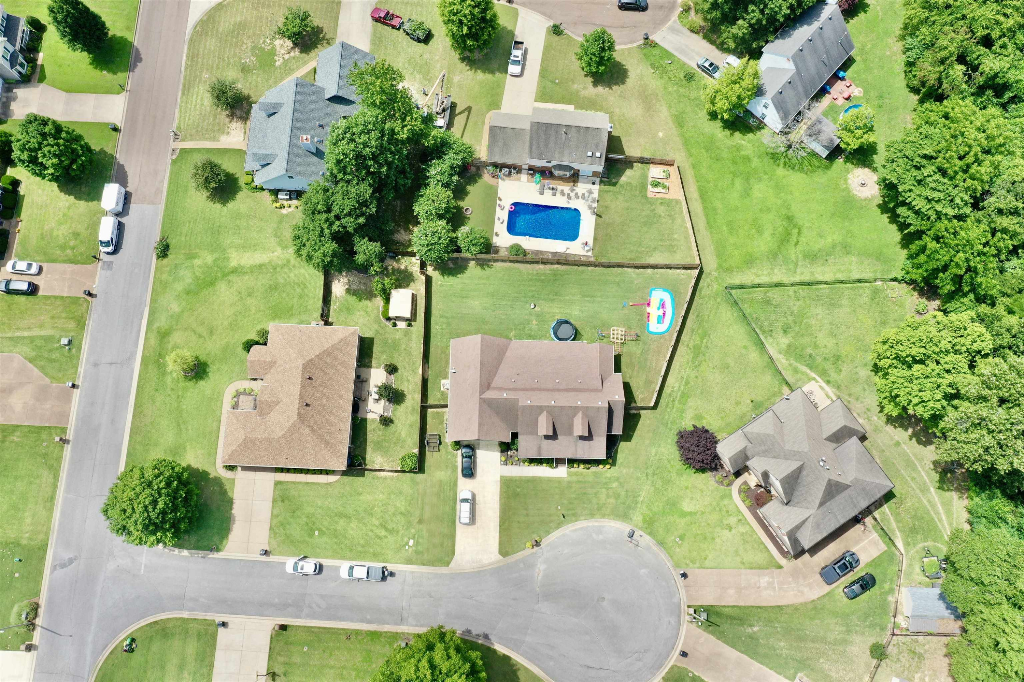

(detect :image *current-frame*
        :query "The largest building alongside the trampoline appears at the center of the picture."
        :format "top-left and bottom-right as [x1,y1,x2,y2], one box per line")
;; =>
[447,334,625,468]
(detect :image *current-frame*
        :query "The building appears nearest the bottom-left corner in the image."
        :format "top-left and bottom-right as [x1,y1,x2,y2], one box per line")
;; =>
[220,324,360,470]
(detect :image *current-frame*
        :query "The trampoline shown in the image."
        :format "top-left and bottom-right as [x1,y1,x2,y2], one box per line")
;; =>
[550,315,576,341]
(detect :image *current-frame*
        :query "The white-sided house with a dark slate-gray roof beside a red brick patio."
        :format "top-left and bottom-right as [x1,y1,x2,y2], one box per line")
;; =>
[750,0,855,135]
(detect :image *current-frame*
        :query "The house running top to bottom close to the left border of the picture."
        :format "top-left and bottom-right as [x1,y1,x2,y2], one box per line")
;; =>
[0,2,37,92]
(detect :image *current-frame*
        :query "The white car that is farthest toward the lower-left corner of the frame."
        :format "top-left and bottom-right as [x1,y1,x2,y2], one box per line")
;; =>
[285,553,321,581]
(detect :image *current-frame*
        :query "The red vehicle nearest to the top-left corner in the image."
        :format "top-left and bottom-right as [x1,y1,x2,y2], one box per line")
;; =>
[369,7,402,29]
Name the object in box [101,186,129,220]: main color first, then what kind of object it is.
white trailer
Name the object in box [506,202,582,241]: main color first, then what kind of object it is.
blue swimming pool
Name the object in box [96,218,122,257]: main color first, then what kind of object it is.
white vehicle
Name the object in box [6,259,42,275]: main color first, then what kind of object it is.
white car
